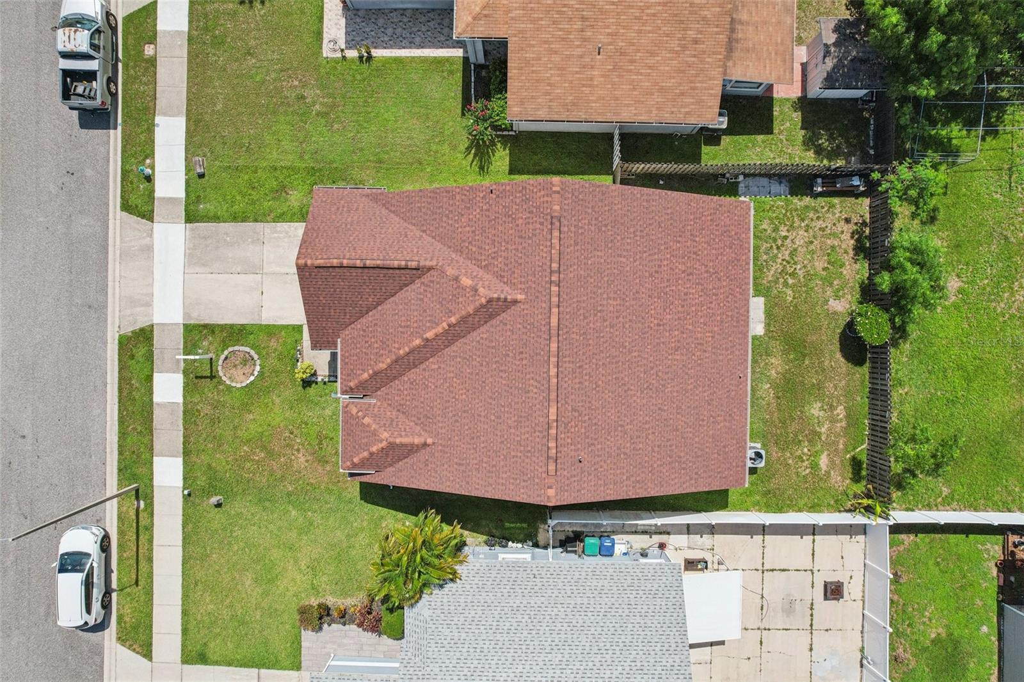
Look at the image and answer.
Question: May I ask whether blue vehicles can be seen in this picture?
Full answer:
No, I find no blue vehicle anywhere in the image.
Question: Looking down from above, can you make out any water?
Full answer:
No, the scene doesn't show any water.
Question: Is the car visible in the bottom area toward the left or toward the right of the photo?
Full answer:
It is on the left.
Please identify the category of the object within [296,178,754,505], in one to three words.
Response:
house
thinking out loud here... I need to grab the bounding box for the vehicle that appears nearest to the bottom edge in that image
[54,525,111,627]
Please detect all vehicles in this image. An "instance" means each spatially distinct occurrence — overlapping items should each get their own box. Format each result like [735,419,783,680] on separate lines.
[54,0,118,115]
[54,525,111,627]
